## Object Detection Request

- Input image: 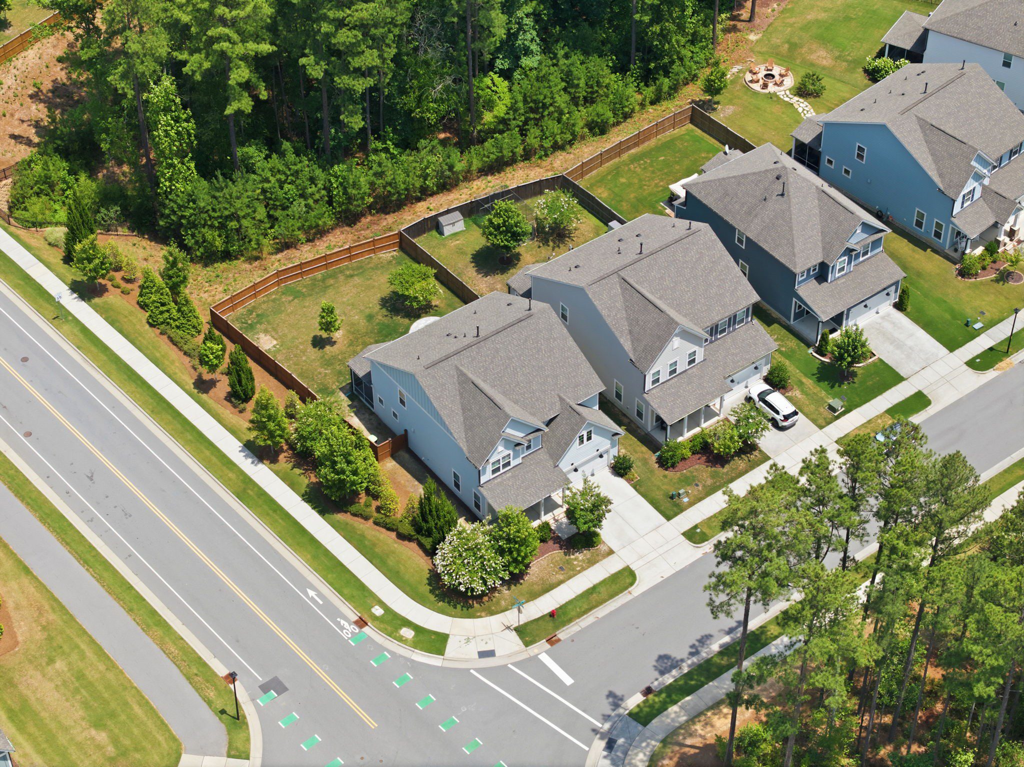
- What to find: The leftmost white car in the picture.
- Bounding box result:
[746,389,798,432]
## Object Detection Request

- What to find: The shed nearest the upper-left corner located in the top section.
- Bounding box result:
[441,209,471,242]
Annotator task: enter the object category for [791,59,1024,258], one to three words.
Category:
house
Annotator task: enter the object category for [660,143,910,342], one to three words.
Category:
house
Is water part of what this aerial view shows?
No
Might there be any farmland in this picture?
No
